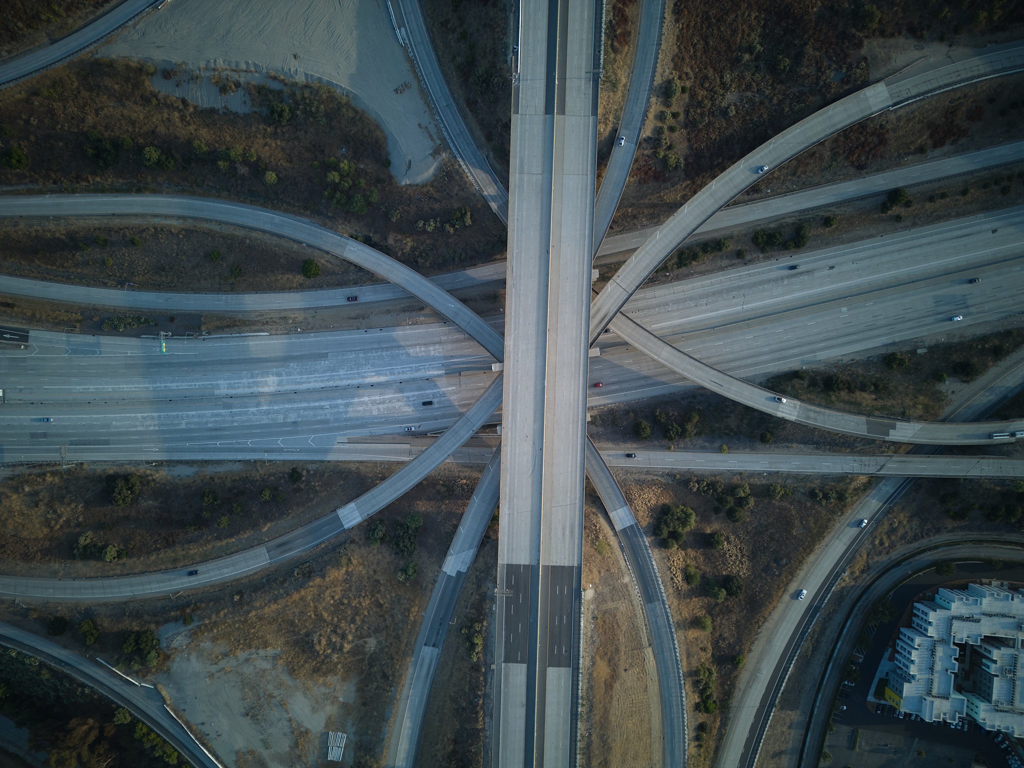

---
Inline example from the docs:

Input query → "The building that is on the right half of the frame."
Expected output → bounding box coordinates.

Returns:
[883,583,1024,737]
